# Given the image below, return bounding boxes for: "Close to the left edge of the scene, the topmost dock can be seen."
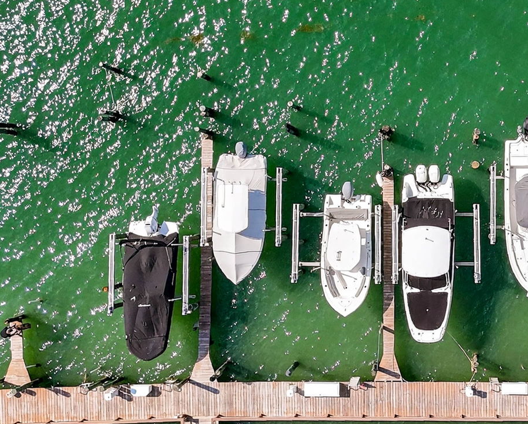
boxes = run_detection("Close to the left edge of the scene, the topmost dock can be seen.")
[5,335,34,388]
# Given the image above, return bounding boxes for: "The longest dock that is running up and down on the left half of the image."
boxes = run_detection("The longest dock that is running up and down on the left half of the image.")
[191,139,219,383]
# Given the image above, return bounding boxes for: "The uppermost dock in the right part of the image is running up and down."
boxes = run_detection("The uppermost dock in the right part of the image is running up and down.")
[375,180,402,382]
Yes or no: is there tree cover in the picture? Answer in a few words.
No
